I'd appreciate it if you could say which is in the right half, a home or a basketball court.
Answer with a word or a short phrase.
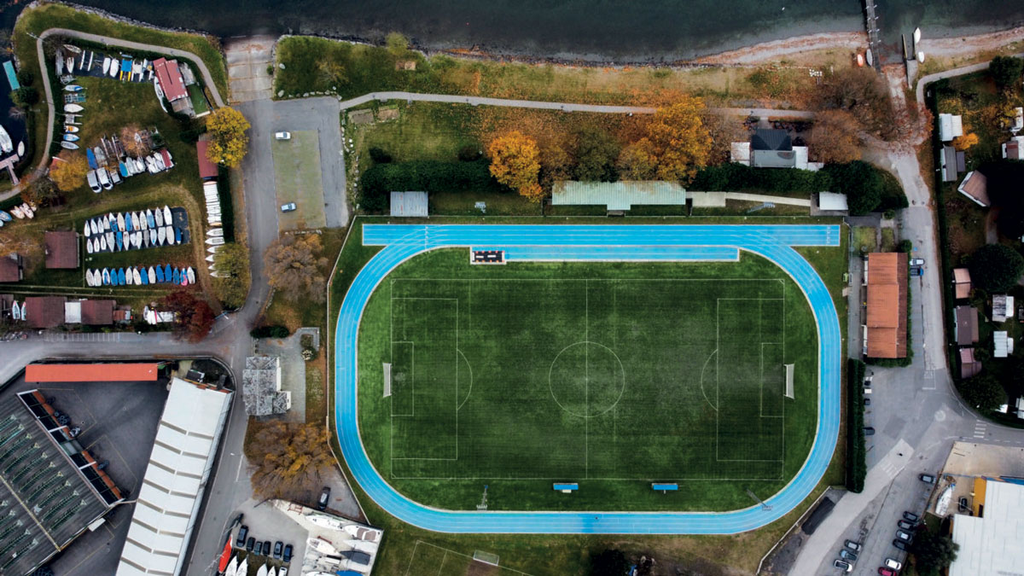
home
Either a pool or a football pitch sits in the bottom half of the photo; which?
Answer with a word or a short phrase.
football pitch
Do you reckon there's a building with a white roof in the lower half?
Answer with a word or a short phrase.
Yes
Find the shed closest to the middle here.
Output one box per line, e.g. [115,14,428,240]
[390,192,428,216]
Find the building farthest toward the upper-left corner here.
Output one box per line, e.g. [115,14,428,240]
[153,57,191,102]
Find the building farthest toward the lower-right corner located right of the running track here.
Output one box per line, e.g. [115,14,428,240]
[949,475,1024,576]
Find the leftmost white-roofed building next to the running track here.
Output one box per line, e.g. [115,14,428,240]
[115,376,233,576]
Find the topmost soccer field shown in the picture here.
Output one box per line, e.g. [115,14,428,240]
[391,278,785,480]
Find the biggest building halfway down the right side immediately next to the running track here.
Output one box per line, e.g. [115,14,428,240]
[860,253,907,358]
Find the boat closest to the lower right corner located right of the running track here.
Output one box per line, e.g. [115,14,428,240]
[934,484,951,515]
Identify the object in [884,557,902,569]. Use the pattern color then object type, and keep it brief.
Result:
white vehicle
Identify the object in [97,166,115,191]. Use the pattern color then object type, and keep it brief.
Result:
white vehicle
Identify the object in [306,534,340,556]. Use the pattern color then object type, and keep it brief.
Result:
white boat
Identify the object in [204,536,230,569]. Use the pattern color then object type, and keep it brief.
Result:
red boat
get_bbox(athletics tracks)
[334,224,842,536]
